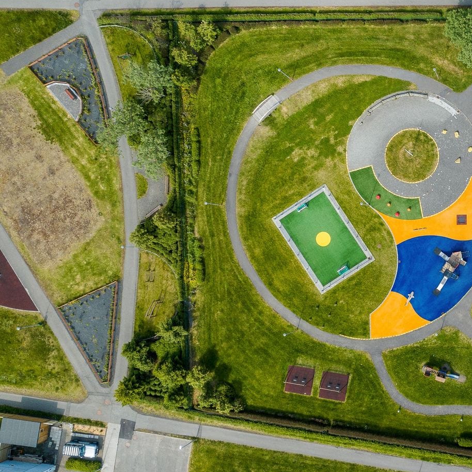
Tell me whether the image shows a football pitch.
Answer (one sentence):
Yes, this view includes a football pitch.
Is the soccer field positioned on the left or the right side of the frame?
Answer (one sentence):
The soccer field is on the right side of the image.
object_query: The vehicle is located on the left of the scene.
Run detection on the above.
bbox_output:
[61,442,101,460]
